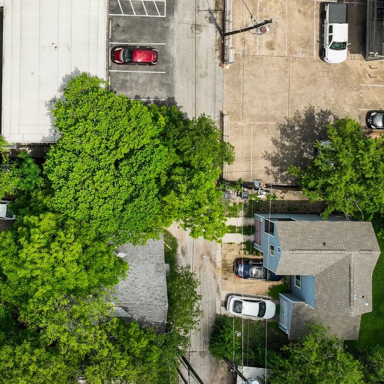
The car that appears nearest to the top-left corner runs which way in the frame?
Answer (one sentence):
Seen from above, the car that appears nearest to the top-left corner lies from side to side.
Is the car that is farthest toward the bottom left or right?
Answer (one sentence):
The car that is farthest toward the bottom appears in the right half of the scene.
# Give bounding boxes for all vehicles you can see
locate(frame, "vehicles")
[110,44,159,67]
[321,2,350,64]
[363,109,384,132]
[0,200,19,220]
[233,258,282,281]
[225,295,275,321]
